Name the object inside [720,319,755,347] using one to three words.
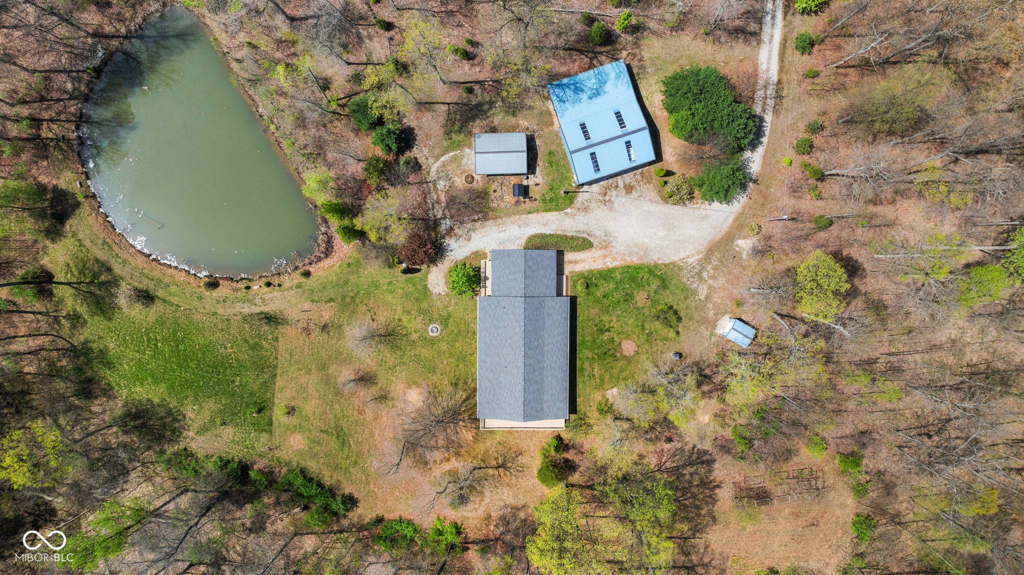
shed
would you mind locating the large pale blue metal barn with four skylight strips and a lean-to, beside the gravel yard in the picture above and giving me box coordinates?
[546,60,656,185]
